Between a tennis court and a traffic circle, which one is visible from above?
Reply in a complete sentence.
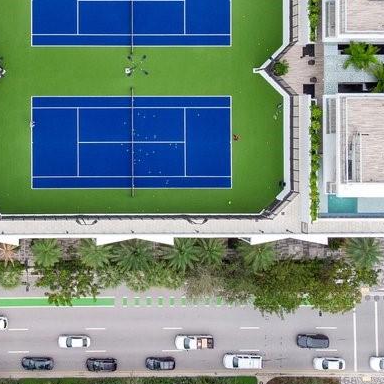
The one in the frame is a tennis court.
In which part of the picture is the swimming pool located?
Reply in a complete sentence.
The swimming pool appears toward the right of the photo.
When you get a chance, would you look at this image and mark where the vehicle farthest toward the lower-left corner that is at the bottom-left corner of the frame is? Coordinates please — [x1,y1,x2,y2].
[21,355,54,372]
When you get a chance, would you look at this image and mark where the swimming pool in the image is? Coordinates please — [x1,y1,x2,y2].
[317,193,384,217]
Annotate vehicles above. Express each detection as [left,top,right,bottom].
[221,352,266,372]
[311,355,345,371]
[368,355,384,371]
[57,333,90,349]
[174,333,216,351]
[145,355,177,371]
[86,356,118,373]
[295,332,331,349]
[0,314,8,330]
[21,355,54,372]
